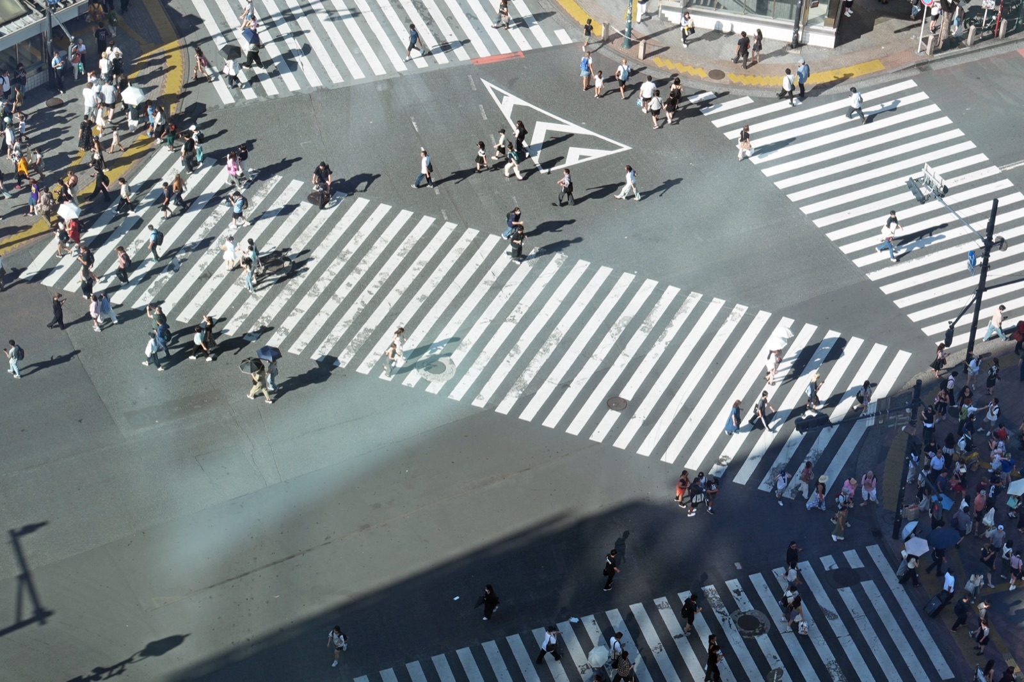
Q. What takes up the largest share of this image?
paved ground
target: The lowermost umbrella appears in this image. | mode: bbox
[587,652,613,671]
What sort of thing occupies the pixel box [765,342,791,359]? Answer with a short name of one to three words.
umbrella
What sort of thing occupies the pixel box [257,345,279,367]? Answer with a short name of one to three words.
umbrella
